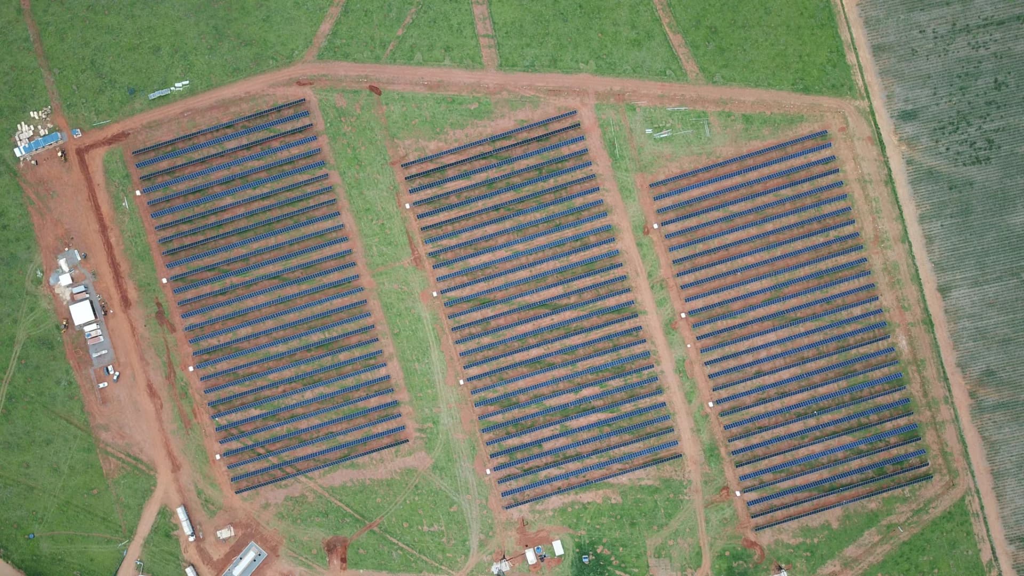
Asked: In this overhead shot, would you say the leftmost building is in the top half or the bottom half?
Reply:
top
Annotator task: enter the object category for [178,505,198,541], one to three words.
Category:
vehicle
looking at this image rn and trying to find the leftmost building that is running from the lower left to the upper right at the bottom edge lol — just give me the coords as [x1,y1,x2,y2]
[223,539,270,576]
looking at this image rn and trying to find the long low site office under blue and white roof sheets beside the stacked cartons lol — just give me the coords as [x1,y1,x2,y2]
[14,132,64,157]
